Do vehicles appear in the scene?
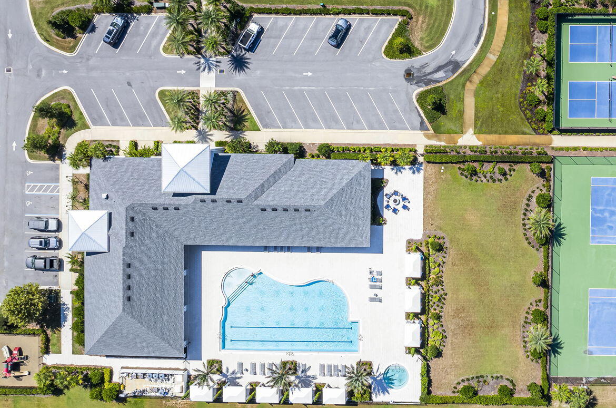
Yes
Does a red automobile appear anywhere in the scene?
No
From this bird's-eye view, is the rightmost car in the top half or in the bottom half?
top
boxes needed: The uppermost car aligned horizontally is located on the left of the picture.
[27,217,62,232]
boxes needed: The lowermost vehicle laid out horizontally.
[26,256,61,271]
